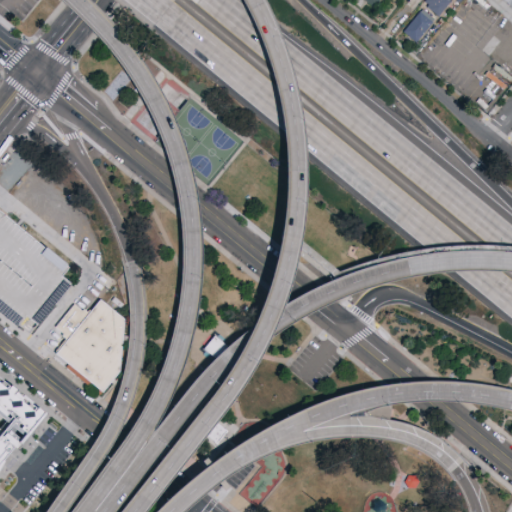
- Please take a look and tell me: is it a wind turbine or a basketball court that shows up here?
basketball court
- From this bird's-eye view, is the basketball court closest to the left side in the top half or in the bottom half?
top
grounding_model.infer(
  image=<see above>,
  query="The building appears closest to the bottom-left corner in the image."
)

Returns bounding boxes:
[0,374,48,472]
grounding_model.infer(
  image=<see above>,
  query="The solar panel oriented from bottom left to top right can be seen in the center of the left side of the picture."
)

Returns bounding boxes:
[34,280,70,322]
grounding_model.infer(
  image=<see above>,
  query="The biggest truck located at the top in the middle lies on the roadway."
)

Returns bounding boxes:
[192,48,216,68]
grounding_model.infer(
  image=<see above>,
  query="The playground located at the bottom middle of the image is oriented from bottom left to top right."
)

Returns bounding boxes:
[240,450,286,512]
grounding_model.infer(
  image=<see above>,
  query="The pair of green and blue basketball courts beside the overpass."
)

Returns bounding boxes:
[152,98,244,185]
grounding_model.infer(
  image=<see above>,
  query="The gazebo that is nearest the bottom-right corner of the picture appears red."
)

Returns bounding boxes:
[404,475,420,488]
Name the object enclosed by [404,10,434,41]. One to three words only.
house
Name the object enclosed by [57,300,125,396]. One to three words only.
building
